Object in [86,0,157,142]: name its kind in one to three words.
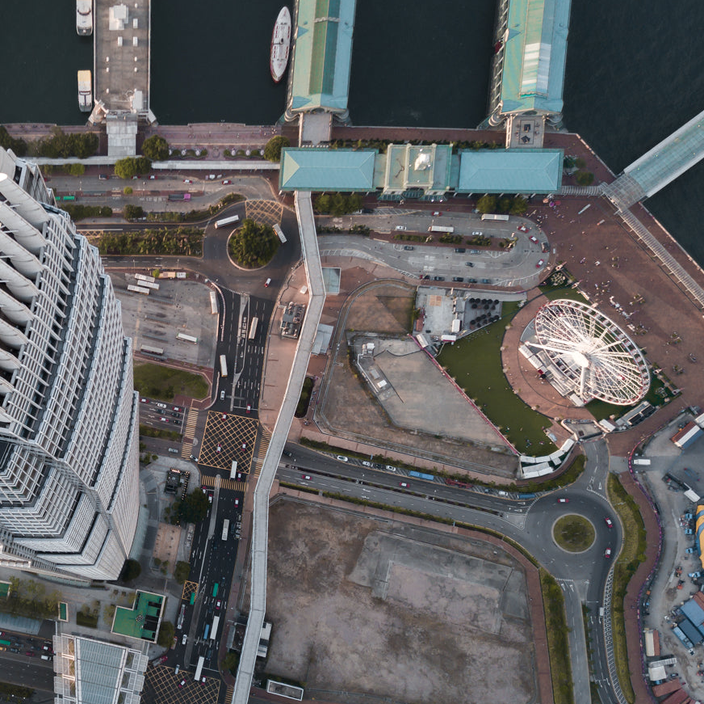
pier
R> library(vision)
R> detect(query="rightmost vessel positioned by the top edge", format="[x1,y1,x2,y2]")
[269,8,290,90]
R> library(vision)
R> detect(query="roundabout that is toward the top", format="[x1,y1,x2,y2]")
[226,217,280,271]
